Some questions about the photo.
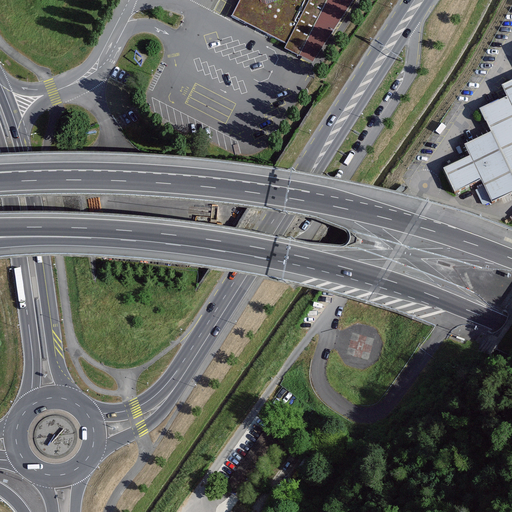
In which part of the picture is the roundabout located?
bottom left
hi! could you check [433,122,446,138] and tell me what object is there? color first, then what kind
white vehicle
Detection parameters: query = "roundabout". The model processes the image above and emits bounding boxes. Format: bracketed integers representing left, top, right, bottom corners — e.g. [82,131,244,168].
[0,384,134,512]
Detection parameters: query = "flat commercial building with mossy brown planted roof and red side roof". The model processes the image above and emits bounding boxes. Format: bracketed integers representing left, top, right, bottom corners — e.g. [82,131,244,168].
[230,0,352,63]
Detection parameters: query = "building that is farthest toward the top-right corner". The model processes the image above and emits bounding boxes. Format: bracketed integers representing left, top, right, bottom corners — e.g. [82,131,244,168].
[442,79,512,203]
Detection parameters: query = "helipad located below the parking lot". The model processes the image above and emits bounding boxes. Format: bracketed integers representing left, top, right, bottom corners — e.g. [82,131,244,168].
[333,323,383,369]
